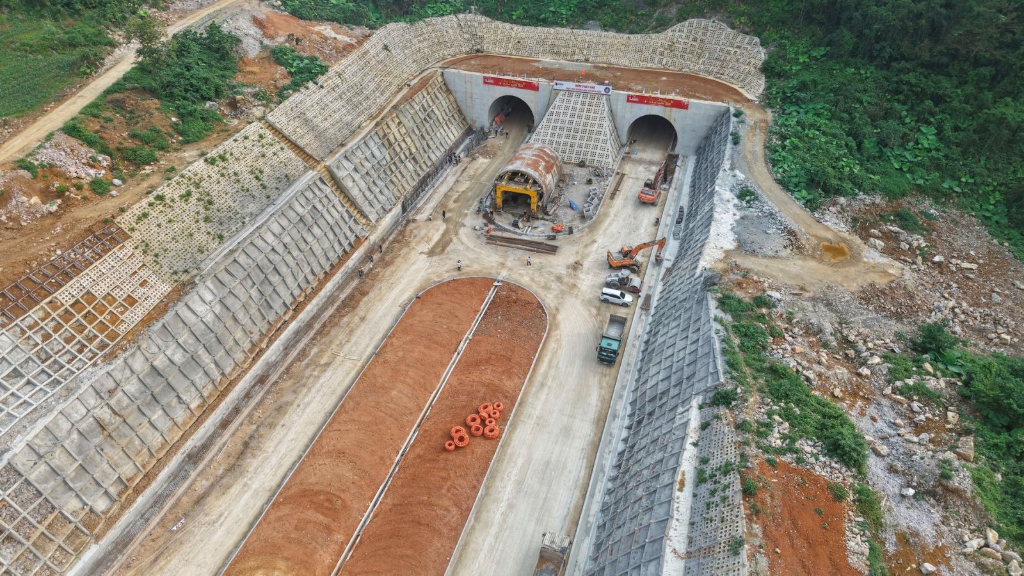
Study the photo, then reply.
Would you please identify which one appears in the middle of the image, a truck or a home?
truck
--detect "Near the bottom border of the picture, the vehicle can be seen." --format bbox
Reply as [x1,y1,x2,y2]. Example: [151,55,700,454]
[528,533,571,576]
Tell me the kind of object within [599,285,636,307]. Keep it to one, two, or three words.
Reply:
car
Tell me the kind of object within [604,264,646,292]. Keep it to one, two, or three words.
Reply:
work vehicle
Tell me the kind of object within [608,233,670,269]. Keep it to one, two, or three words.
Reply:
work vehicle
